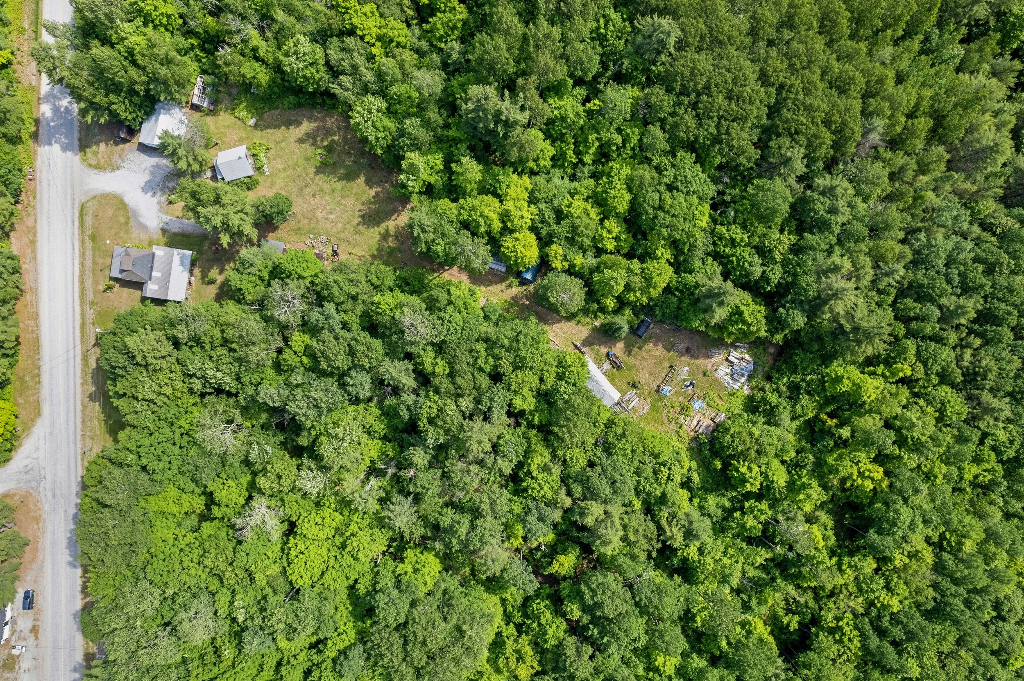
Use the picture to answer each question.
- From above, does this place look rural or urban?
rural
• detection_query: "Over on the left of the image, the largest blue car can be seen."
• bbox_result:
[21,590,34,612]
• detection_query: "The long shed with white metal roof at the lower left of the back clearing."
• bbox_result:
[582,355,621,408]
